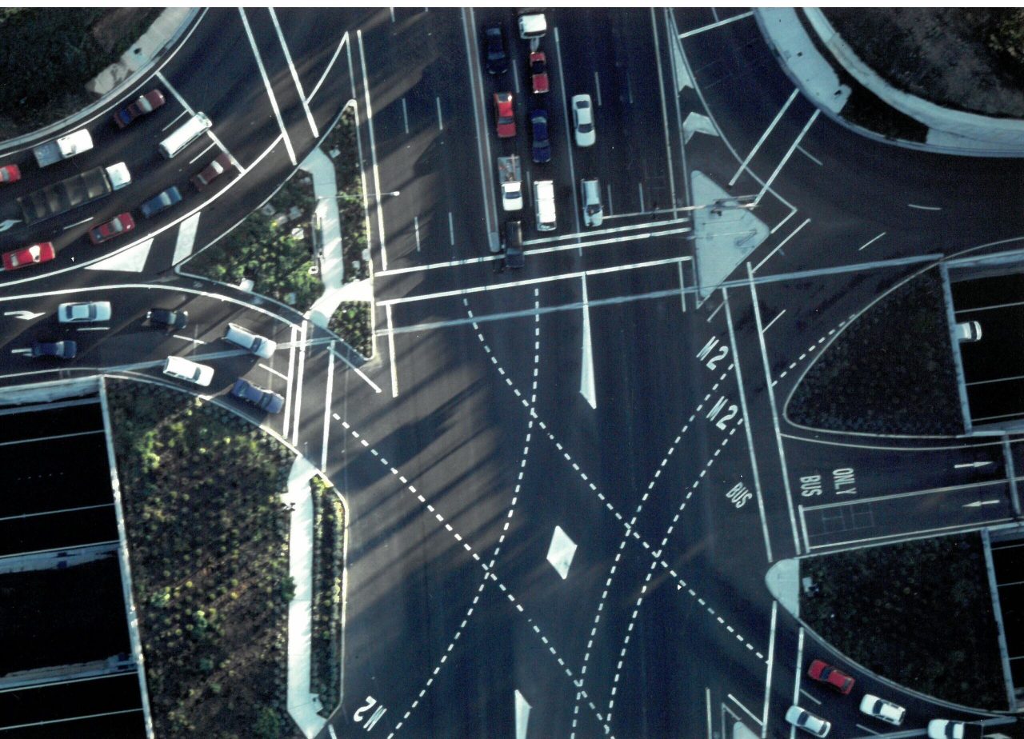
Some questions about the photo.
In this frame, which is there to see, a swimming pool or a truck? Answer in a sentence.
Visible in the photo is a truck.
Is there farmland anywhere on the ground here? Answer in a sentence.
No, there's no farmland in this view.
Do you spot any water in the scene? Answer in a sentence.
No, the scene doesn't show any water.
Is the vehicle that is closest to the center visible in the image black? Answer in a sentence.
Yes, the vehicle that is closest to the center is black.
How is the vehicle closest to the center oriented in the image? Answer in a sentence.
In this picture, the vehicle closest to the center lies vertically.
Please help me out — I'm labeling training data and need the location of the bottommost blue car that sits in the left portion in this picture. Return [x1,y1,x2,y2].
[231,379,284,414]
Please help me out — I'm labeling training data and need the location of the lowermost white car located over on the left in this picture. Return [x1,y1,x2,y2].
[163,355,215,385]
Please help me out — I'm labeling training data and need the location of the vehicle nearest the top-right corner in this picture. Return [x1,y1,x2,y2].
[961,319,982,340]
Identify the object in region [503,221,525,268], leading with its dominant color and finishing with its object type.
black vehicle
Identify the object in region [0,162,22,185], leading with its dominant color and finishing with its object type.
red car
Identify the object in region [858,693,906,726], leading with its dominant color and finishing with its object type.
white car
